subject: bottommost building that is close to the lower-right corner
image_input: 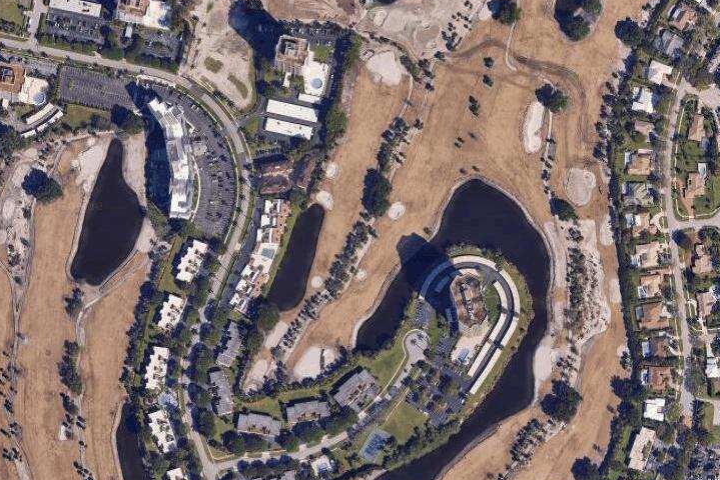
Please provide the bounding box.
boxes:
[629,427,656,472]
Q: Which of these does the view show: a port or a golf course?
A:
golf course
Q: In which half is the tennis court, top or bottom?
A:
bottom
